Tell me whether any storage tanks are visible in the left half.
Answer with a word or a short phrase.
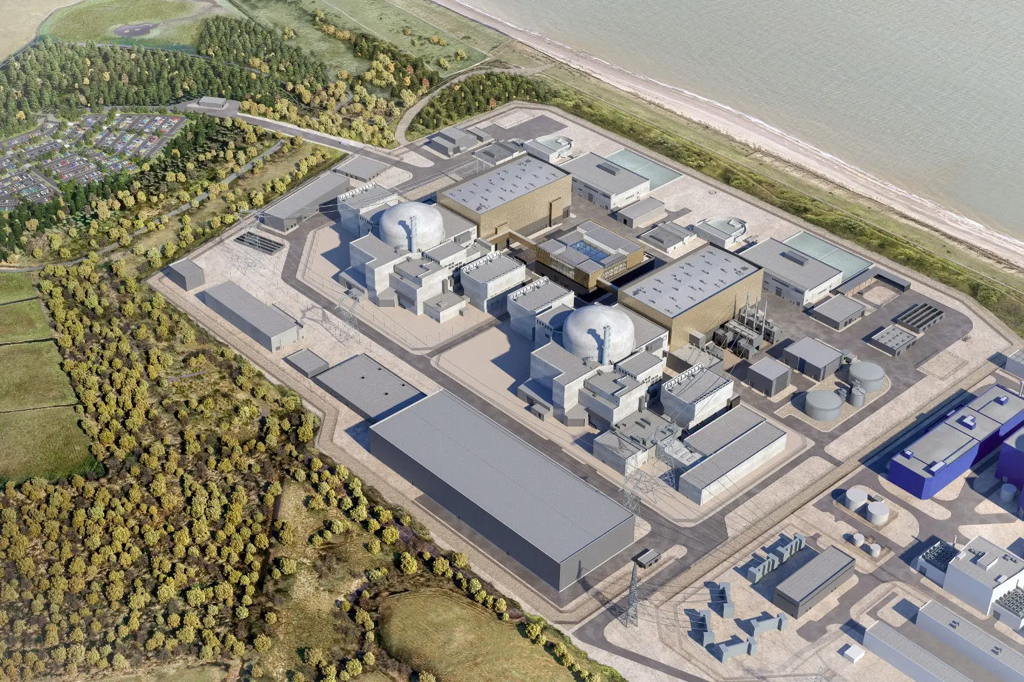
No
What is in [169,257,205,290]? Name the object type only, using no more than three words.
shed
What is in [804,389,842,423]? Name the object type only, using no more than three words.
storage tank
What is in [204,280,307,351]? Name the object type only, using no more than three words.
building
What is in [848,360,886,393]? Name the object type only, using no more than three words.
storage tank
